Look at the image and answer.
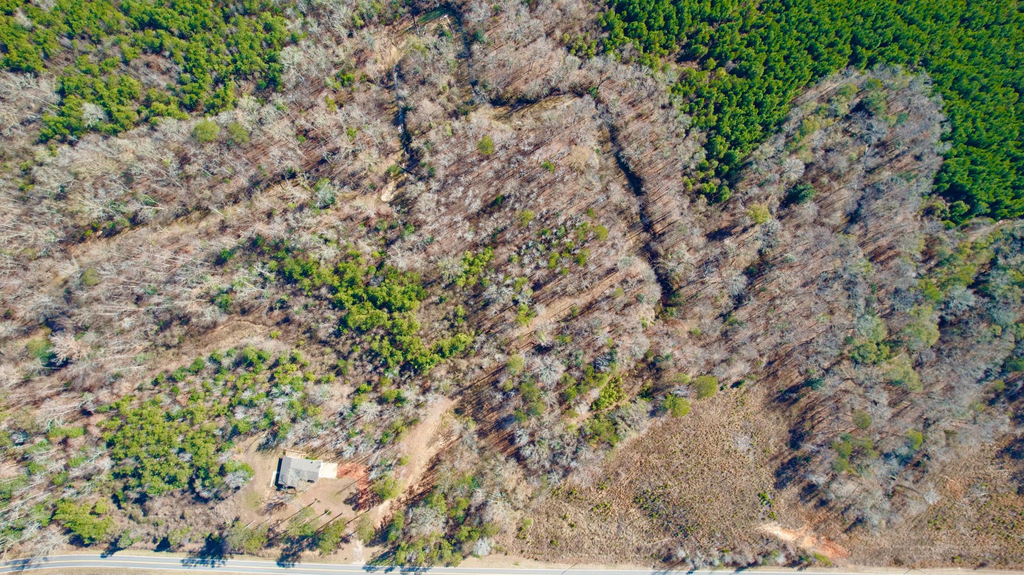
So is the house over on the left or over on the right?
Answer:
left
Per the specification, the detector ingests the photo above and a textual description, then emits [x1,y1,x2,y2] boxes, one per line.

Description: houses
[280,450,322,485]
